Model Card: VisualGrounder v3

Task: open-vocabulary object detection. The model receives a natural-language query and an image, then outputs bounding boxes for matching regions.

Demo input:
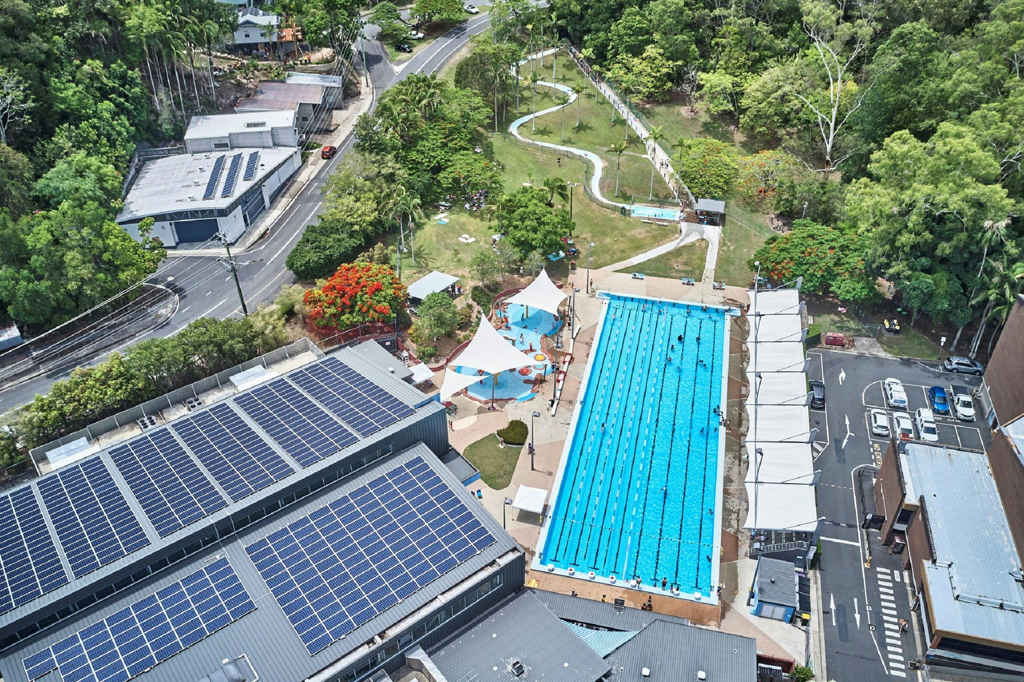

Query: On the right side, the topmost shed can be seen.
[695,198,726,226]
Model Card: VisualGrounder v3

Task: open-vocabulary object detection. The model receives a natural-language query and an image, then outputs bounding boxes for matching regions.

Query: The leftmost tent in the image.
[407,362,439,390]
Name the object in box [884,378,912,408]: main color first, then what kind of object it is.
white vehicle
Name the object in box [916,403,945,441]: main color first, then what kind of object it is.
white vehicle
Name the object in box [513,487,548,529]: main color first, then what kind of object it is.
white tent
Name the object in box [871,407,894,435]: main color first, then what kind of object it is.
white car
